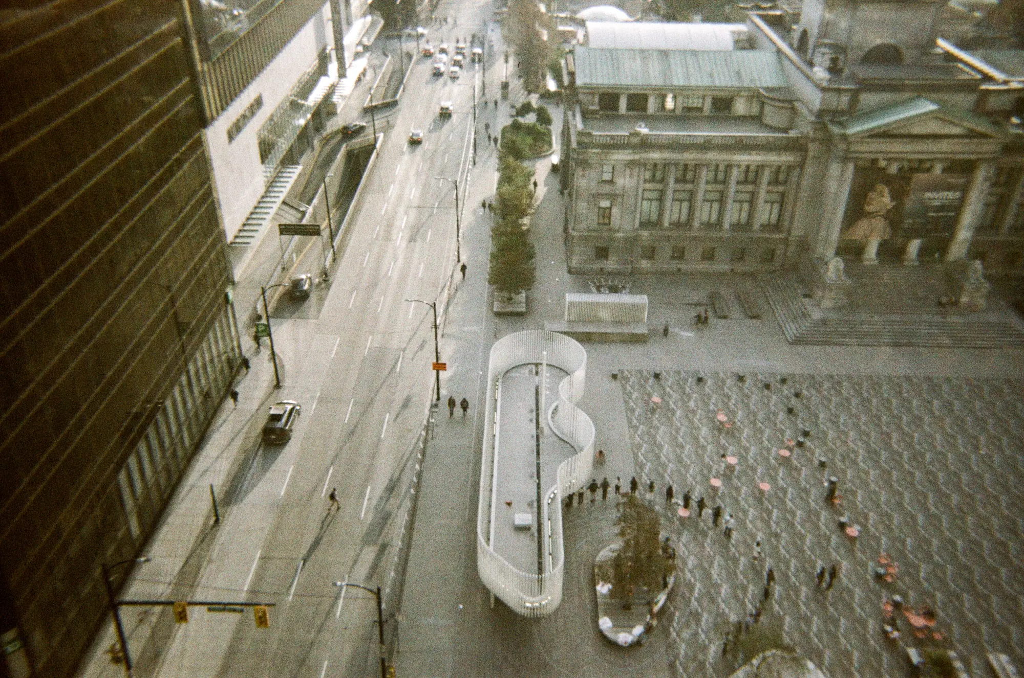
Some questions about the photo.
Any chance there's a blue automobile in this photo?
No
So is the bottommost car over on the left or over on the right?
left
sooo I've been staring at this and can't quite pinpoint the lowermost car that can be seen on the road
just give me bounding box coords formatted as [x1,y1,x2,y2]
[264,397,304,441]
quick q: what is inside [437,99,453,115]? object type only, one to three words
car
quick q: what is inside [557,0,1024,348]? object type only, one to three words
building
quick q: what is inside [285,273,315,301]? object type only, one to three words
car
